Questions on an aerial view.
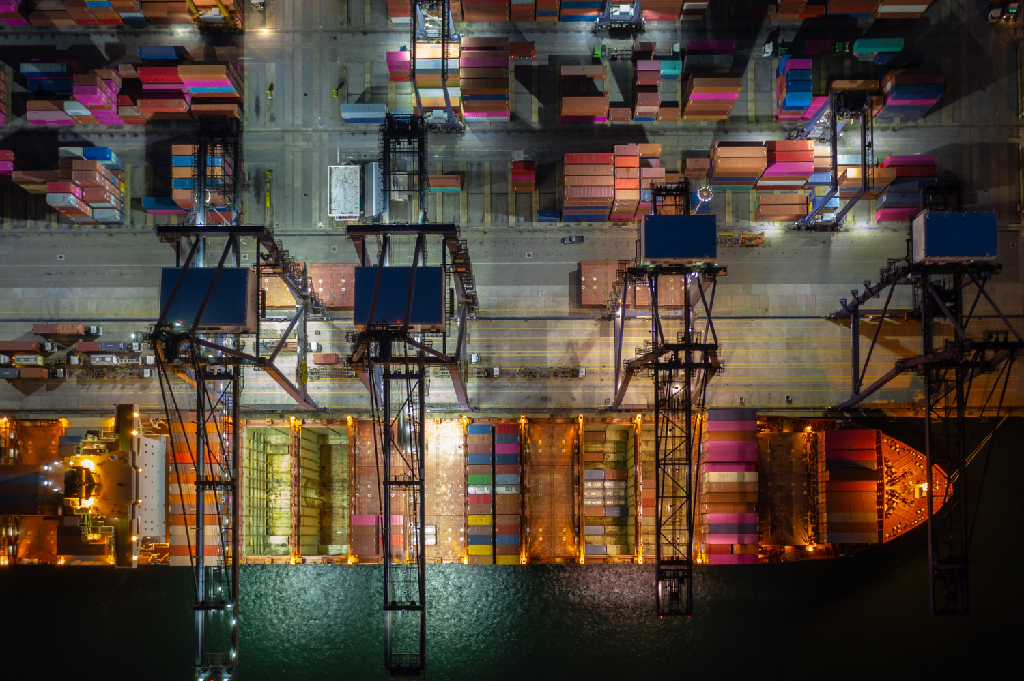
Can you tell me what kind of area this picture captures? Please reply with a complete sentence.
The area seen from above is a port.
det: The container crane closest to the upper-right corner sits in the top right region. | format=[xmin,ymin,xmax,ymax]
[791,80,872,227]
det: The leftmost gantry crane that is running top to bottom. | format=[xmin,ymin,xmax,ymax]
[131,110,341,679]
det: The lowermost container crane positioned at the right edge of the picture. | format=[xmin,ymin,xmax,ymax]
[815,163,1024,617]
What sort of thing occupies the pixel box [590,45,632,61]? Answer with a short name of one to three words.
vehicle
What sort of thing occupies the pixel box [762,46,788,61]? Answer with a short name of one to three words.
vehicle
